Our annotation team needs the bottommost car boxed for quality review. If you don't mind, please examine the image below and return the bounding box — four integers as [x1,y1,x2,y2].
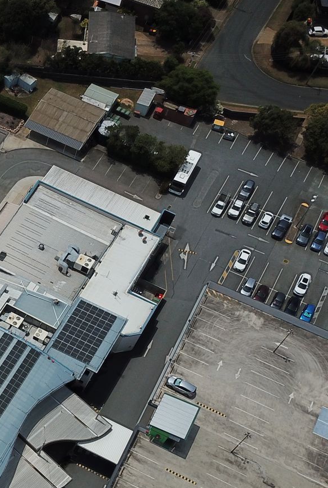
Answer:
[167,378,197,398]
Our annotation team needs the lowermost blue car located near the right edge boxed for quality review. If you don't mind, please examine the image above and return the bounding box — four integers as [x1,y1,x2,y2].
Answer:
[299,304,317,323]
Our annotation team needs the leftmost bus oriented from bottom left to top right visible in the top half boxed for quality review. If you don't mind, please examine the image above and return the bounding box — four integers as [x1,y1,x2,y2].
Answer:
[167,148,203,194]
